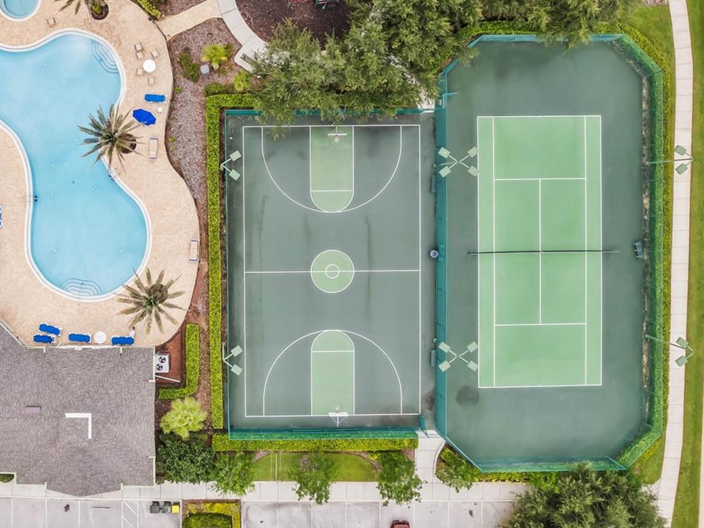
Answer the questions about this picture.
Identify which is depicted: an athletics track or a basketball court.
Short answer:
basketball court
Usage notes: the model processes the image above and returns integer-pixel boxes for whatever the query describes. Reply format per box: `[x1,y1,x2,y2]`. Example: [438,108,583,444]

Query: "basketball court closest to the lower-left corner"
[224,113,434,430]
